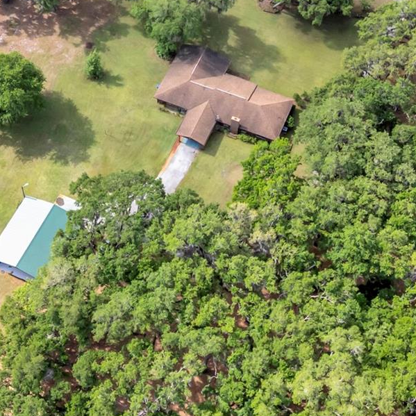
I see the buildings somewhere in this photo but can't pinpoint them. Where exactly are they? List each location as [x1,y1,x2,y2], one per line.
[153,46,294,153]
[0,198,81,290]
